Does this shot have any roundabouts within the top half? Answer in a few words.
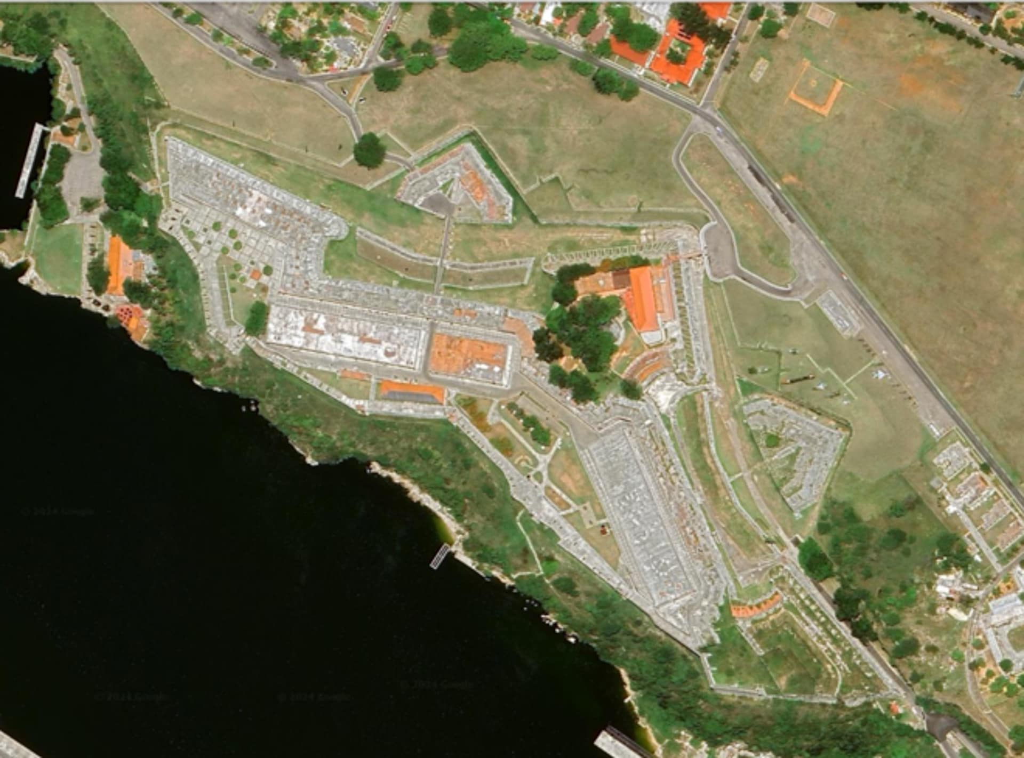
No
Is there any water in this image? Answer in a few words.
Yes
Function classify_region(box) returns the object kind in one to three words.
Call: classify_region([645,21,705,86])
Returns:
building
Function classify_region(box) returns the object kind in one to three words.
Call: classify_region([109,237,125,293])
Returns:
building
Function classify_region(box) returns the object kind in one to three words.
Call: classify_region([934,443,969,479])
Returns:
house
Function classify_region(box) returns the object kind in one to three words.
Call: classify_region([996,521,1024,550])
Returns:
house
